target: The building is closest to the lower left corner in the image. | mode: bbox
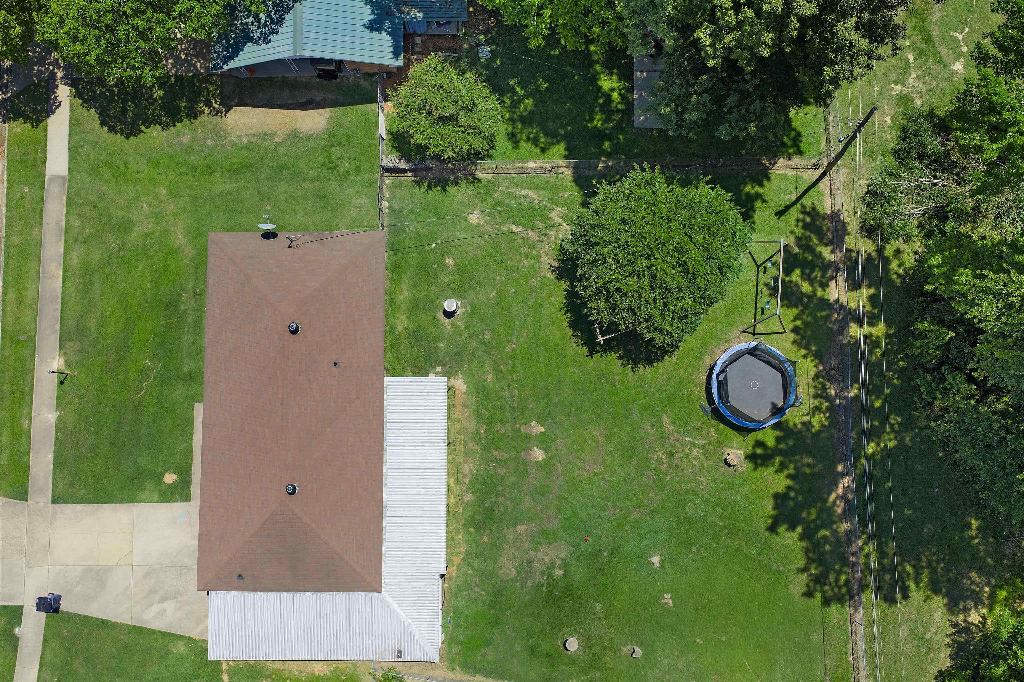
[197,230,386,592]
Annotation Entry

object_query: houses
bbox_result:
[203,0,405,74]
[197,230,386,592]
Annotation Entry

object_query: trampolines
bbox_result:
[709,335,805,435]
